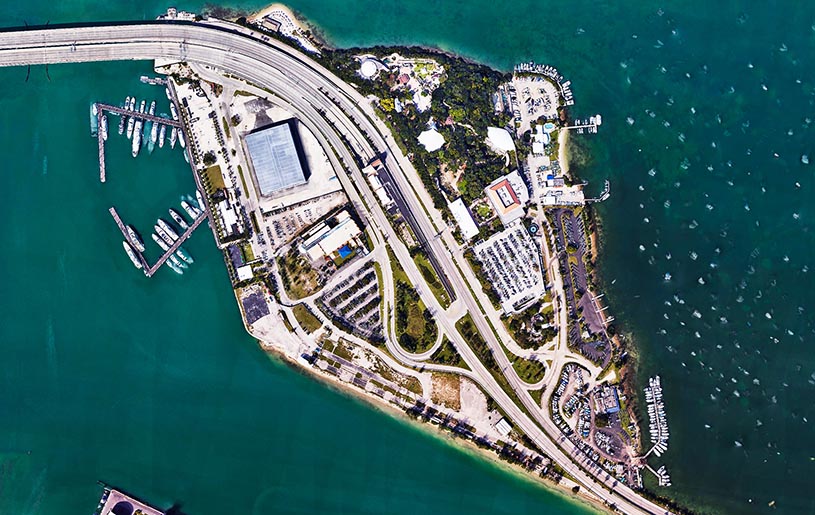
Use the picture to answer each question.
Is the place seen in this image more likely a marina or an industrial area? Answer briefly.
marina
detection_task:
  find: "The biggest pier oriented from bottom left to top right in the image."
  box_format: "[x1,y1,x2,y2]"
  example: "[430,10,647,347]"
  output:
[147,210,207,275]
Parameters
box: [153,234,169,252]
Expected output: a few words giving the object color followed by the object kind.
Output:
white boat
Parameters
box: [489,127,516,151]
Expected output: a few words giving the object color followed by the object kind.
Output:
white tent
